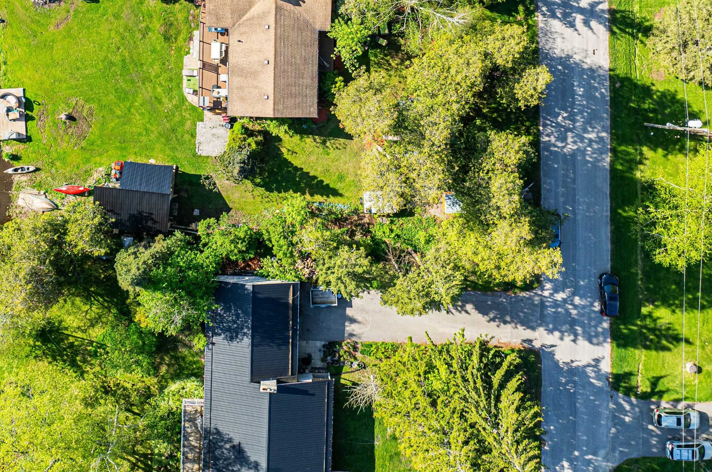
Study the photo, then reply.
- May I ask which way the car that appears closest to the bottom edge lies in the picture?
horizontally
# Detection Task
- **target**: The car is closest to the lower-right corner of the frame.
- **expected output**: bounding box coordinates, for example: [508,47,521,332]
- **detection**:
[664,438,711,461]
